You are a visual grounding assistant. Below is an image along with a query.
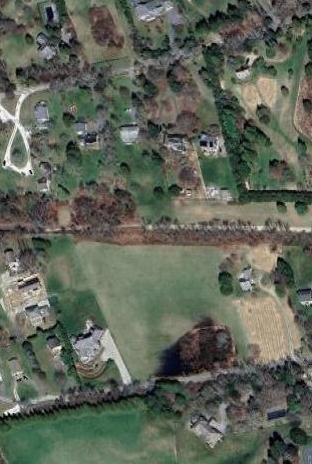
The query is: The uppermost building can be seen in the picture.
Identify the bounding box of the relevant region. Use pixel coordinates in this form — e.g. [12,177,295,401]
[129,0,183,24]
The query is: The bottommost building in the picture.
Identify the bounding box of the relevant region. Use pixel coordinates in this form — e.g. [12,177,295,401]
[187,412,224,448]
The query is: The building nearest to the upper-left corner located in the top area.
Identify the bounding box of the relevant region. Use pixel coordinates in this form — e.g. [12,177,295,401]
[34,29,71,61]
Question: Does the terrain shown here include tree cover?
Yes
